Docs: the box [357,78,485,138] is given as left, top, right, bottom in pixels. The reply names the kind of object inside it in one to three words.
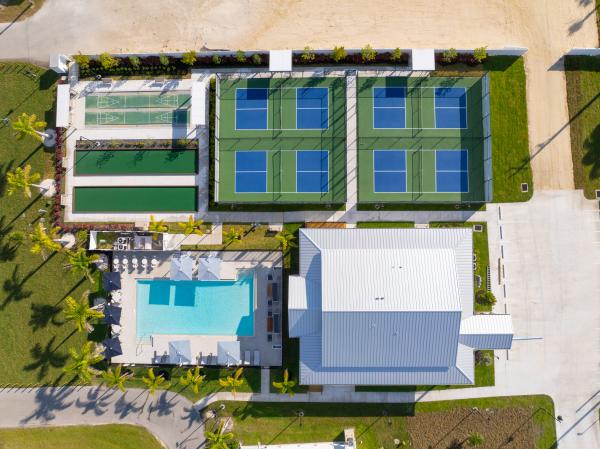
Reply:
sports court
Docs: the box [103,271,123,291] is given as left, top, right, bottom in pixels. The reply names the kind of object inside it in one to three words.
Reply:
umbrella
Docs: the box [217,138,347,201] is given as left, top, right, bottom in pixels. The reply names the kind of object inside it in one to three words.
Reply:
sports court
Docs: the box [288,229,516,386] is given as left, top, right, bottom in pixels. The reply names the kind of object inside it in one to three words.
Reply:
building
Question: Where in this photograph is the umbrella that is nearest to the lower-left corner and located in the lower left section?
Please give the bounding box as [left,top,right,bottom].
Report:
[101,335,125,359]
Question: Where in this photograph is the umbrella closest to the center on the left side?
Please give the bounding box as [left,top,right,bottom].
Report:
[197,256,222,280]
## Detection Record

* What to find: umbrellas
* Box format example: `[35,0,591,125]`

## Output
[103,303,124,324]
[217,341,240,363]
[103,271,123,291]
[169,255,194,280]
[169,341,192,363]
[101,335,125,359]
[197,256,222,280]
